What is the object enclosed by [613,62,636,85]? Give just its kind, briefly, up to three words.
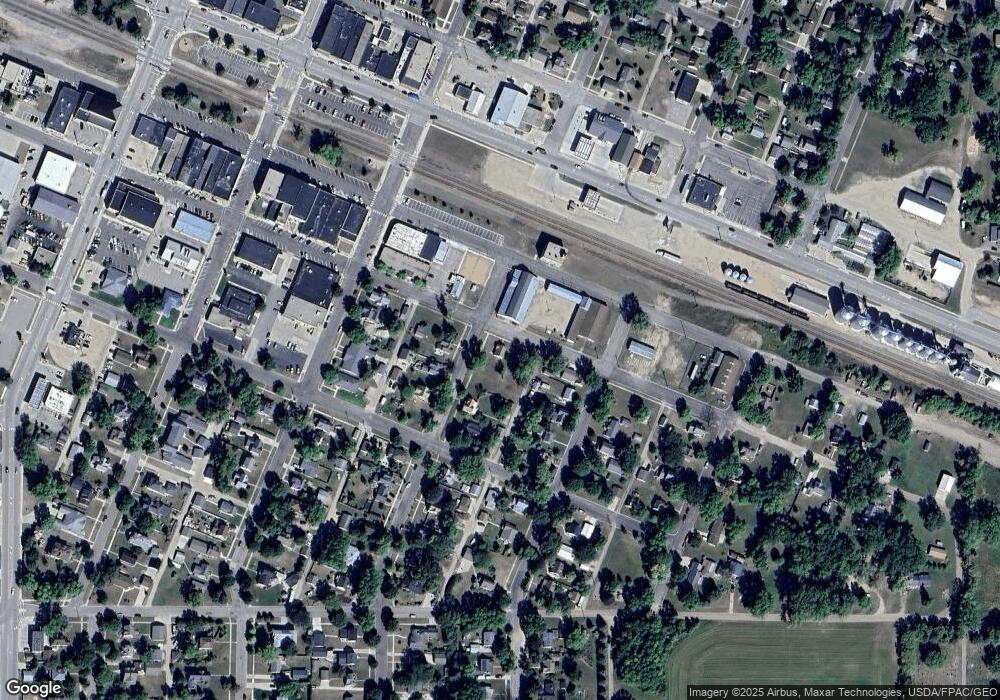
house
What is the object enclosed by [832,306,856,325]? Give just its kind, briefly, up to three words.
silo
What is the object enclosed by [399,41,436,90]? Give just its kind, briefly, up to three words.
building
